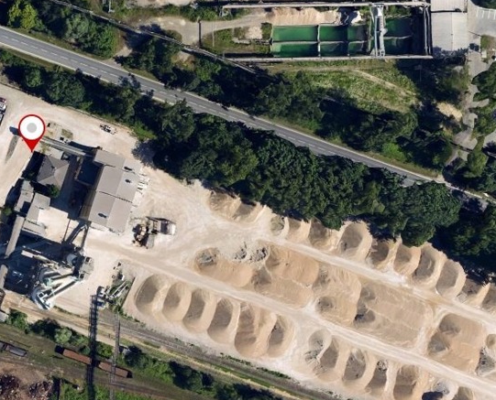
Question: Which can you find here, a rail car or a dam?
rail car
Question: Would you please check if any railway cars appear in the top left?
No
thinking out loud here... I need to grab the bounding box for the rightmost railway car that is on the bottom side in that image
[97,359,130,380]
